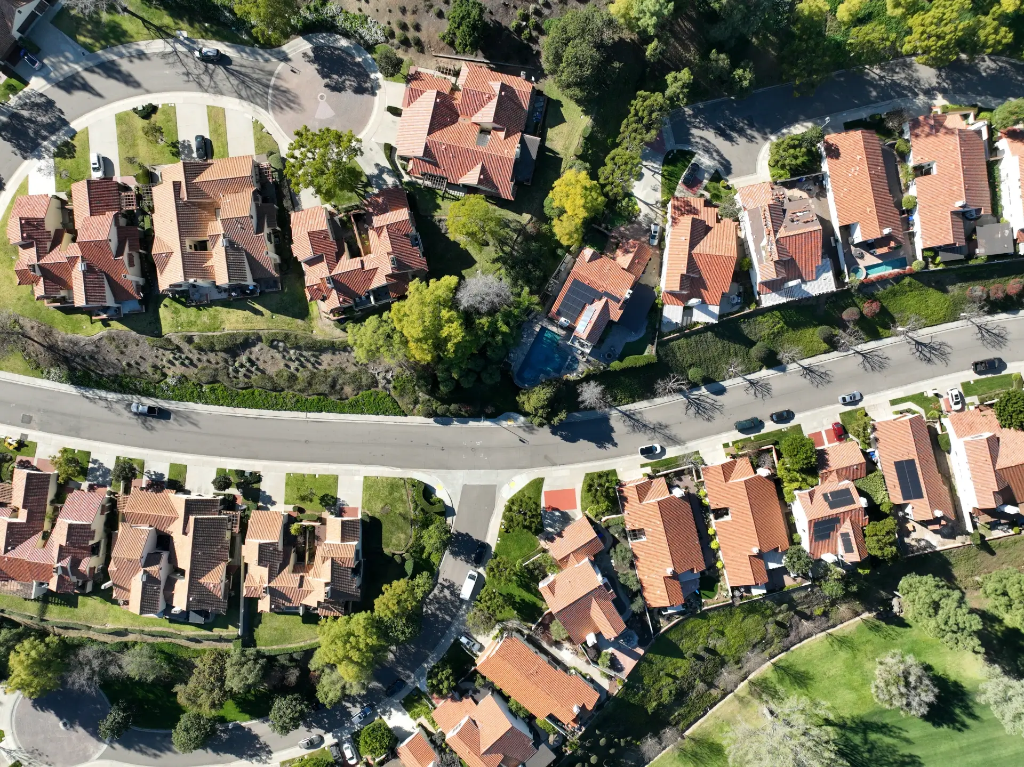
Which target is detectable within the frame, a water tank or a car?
car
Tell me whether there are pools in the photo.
Yes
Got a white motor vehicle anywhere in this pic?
Yes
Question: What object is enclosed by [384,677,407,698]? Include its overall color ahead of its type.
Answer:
black car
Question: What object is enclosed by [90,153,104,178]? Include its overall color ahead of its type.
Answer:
white car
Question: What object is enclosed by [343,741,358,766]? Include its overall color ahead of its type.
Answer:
white car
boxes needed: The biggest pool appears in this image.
[517,325,570,386]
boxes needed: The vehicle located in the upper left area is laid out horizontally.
[196,48,220,61]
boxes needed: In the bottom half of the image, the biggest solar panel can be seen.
[894,460,924,501]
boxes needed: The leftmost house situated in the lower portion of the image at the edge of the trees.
[0,468,116,598]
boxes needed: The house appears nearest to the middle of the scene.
[549,240,652,354]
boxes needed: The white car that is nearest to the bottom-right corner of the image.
[947,387,962,411]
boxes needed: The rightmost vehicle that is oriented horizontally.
[971,358,1001,371]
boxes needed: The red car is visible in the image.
[831,421,846,444]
